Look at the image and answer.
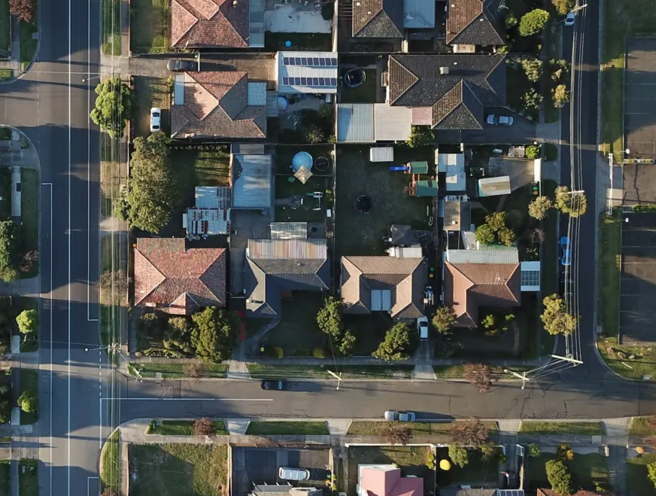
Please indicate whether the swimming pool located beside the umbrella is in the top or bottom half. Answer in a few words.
top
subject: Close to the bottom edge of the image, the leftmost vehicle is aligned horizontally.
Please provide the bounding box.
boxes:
[278,467,309,481]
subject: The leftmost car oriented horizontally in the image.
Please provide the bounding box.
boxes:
[165,58,197,72]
